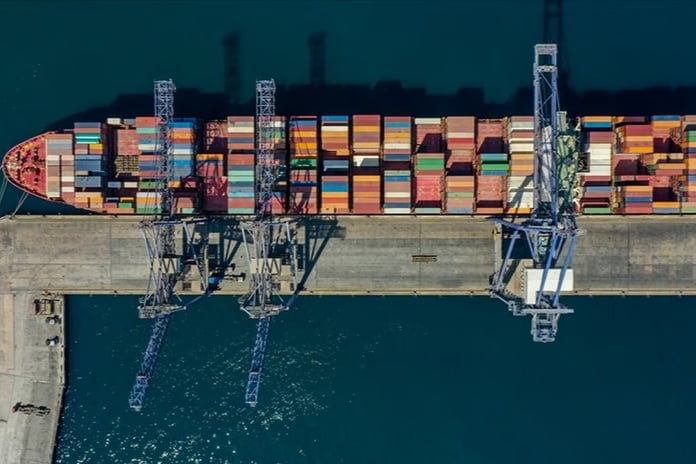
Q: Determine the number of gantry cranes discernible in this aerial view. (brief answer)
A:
three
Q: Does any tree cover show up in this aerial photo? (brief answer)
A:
No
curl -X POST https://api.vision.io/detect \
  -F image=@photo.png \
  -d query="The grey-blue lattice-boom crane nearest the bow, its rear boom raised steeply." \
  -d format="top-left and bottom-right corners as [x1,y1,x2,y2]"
[129,75,217,410]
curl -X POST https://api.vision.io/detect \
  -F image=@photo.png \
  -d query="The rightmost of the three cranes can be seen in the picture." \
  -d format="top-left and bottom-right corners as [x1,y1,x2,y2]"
[488,43,578,344]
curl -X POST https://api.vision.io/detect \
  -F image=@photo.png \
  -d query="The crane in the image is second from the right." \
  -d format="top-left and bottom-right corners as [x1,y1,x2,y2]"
[237,75,301,410]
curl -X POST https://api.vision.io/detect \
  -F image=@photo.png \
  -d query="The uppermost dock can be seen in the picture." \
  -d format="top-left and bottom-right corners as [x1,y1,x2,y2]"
[28,215,696,297]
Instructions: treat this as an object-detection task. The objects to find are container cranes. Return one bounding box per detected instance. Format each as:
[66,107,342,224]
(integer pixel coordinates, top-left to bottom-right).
[129,75,217,410]
[488,43,578,344]
[237,75,301,410]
